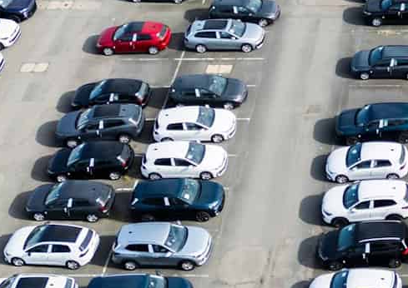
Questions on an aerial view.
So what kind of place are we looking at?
parking lot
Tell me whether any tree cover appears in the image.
No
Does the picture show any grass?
No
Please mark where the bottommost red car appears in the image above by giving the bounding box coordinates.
[96,20,173,55]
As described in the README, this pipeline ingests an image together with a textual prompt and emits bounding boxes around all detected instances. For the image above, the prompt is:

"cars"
[46,139,133,179]
[131,178,229,224]
[209,0,283,27]
[96,20,173,55]
[325,141,408,182]
[0,0,42,22]
[349,46,408,81]
[24,178,116,221]
[308,266,403,288]
[168,73,250,110]
[320,180,408,225]
[54,102,139,141]
[317,221,408,270]
[155,105,238,143]
[1,222,98,268]
[141,140,229,181]
[186,18,267,54]
[115,222,215,271]
[334,104,408,145]
[364,0,408,27]
[0,14,26,49]
[71,77,154,112]
[97,271,196,288]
